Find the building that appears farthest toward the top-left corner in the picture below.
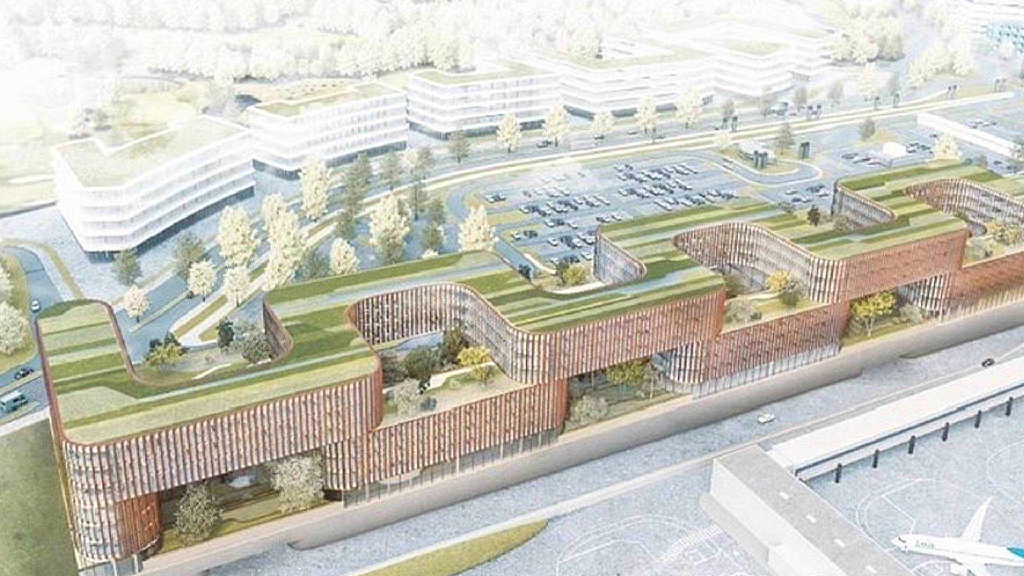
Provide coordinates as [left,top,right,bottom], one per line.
[51,116,253,259]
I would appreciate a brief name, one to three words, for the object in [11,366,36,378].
vehicle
